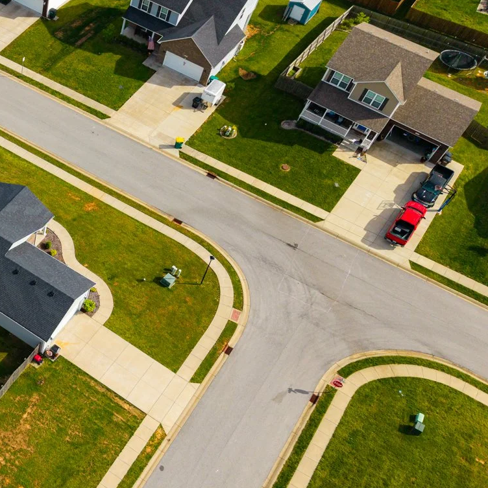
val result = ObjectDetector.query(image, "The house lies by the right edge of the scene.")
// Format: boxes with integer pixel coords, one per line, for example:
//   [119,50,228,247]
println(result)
[301,23,481,162]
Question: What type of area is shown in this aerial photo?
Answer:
residential area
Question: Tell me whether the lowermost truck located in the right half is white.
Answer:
No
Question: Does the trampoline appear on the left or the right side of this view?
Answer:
right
